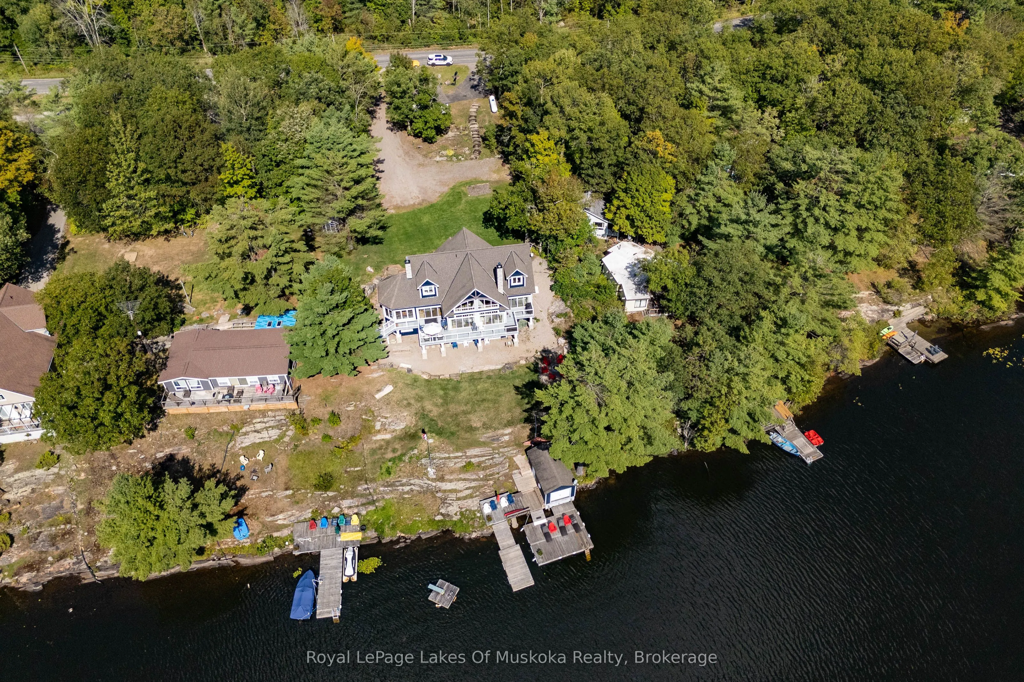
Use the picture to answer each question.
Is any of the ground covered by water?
Yes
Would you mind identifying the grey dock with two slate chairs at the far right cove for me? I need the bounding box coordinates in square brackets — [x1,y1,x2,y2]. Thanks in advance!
[887,308,948,366]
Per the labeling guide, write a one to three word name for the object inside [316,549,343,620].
pier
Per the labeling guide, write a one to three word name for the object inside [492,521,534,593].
pier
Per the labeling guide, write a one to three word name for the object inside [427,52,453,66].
car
